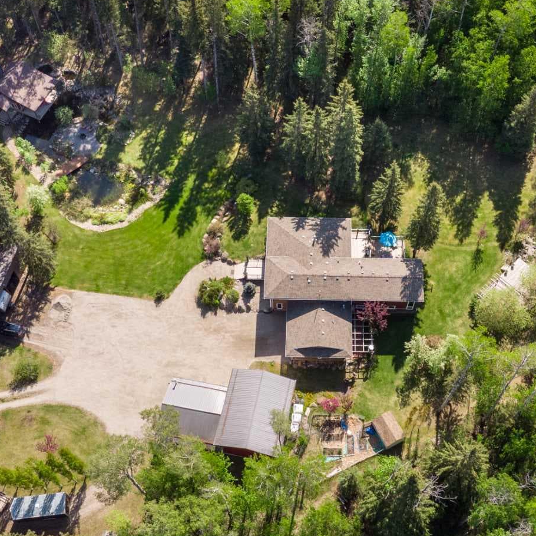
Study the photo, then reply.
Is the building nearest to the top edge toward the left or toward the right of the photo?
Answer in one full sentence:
You can find the building nearest to the top edge on the left side of the picture.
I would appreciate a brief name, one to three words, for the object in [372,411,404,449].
shed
